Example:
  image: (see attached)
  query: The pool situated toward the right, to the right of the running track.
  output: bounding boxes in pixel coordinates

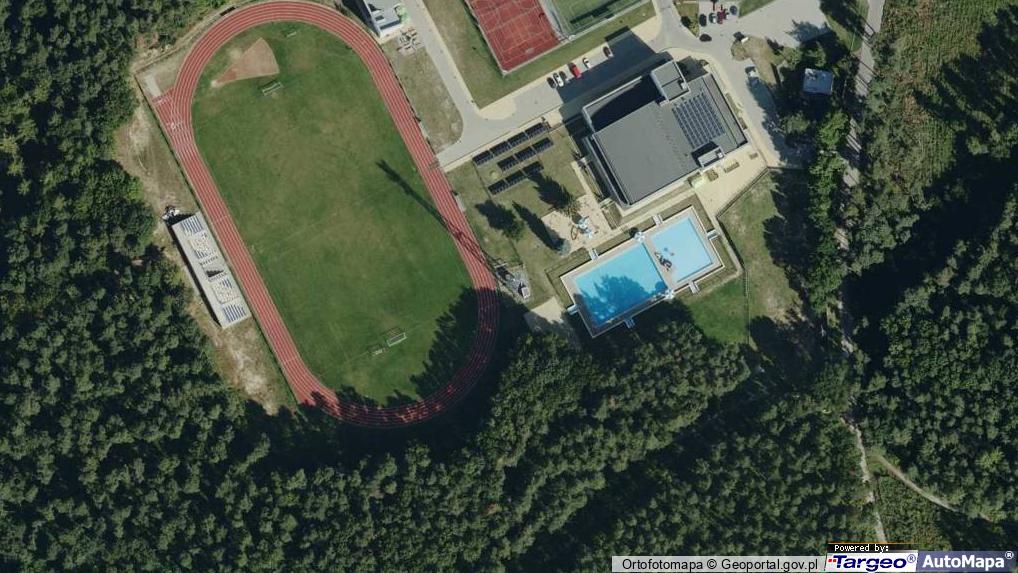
[561,206,724,337]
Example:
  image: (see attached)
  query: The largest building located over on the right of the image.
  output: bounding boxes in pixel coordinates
[582,59,748,209]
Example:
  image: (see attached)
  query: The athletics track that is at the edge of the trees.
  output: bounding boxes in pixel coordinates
[150,0,498,429]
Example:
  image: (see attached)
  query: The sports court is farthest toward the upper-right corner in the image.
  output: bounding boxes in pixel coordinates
[548,0,640,38]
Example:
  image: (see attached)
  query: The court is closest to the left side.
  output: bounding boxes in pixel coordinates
[466,0,563,75]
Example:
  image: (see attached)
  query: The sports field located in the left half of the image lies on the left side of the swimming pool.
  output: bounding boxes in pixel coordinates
[193,23,474,406]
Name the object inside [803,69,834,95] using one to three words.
house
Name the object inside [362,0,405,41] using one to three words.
building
